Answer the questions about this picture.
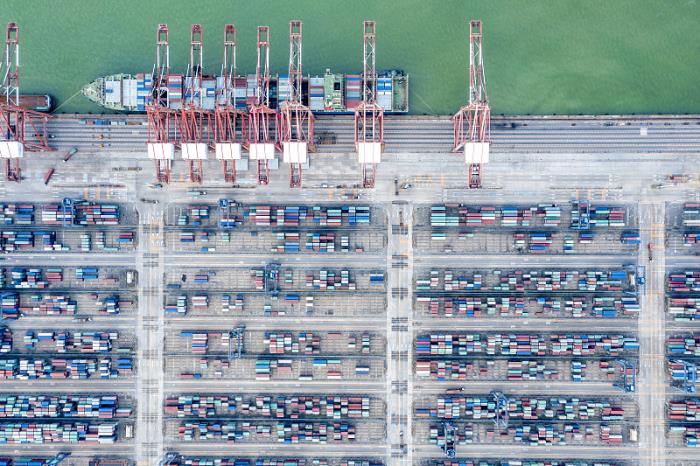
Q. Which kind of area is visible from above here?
port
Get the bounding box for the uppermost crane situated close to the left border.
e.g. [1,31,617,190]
[0,18,61,182]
